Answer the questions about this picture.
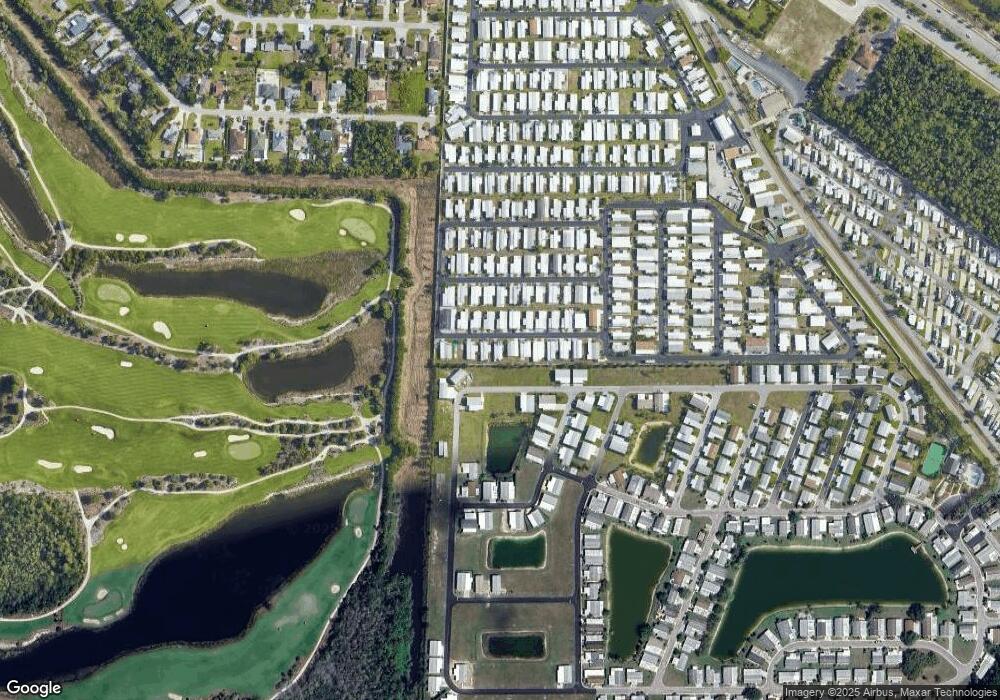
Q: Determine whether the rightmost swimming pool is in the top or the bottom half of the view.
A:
bottom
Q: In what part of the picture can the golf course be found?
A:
left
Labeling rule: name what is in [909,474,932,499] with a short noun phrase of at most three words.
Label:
house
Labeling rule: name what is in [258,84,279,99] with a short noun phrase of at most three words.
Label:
house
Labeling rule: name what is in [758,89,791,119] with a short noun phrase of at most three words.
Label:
building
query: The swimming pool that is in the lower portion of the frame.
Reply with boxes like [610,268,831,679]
[964,464,985,486]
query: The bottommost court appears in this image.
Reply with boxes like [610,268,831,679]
[922,442,946,476]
